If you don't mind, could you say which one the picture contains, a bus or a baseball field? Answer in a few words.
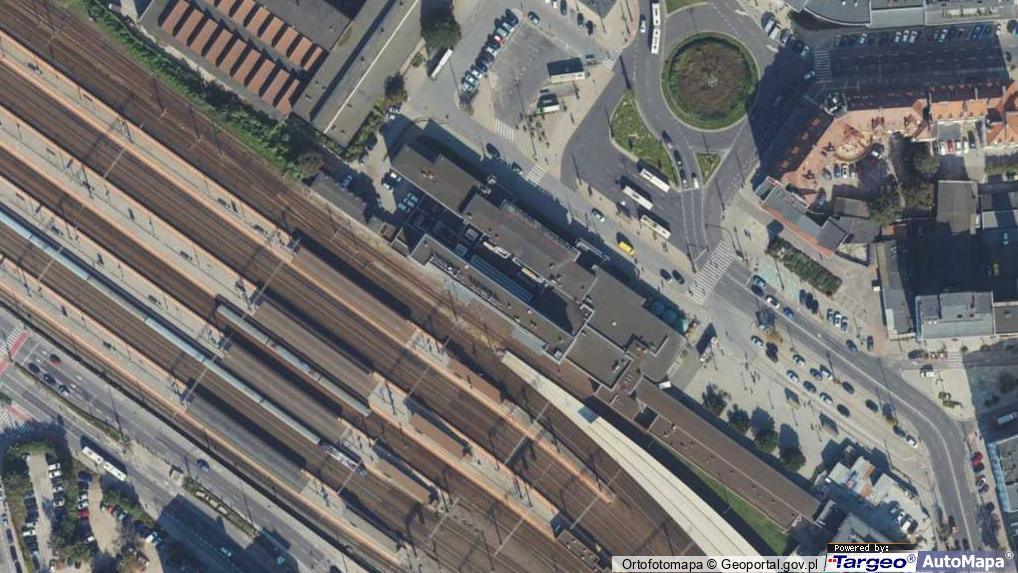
bus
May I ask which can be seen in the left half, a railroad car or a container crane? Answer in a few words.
railroad car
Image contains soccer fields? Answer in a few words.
No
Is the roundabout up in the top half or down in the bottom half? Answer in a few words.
top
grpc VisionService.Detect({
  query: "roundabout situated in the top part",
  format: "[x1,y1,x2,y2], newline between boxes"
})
[661,32,761,130]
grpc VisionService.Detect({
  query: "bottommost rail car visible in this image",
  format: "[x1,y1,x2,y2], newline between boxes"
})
[324,445,365,477]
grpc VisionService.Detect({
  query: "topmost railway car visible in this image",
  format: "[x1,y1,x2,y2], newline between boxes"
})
[0,208,34,238]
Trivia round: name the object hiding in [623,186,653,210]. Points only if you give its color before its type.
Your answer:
white bus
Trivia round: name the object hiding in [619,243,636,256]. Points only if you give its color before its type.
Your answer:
yellow vehicle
